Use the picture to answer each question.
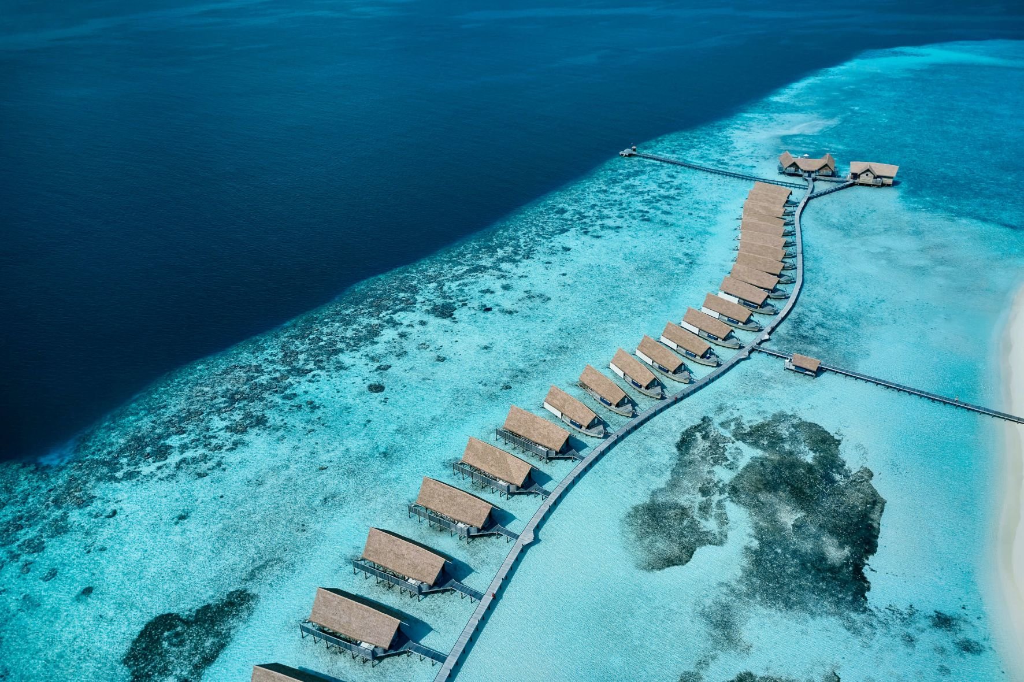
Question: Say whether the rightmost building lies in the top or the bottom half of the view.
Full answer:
The rightmost building sits in the top half of the picture.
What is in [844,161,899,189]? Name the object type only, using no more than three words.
building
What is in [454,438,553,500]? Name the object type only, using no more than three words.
house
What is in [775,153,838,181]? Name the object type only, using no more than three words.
building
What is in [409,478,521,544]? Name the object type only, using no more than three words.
house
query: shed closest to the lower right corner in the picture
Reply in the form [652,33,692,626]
[783,350,823,383]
